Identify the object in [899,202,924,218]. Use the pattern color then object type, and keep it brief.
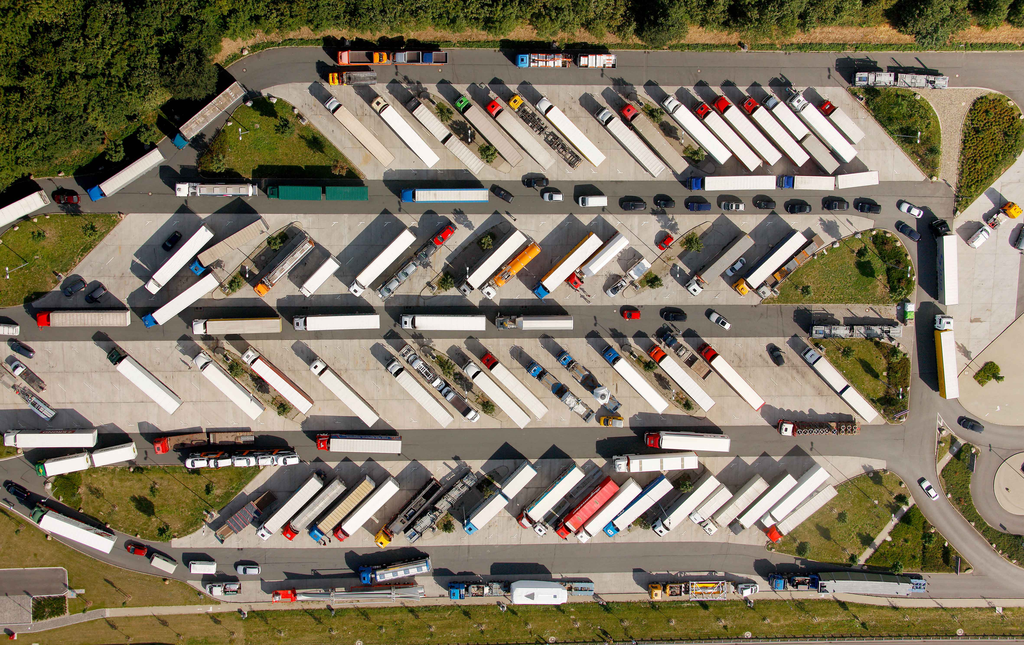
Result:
white car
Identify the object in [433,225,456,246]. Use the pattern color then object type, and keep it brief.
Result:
red car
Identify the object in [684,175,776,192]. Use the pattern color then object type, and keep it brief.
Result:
white vehicle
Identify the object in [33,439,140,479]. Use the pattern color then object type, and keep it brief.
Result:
white truck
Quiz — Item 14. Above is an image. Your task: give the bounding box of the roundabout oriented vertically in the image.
[997,454,1024,516]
